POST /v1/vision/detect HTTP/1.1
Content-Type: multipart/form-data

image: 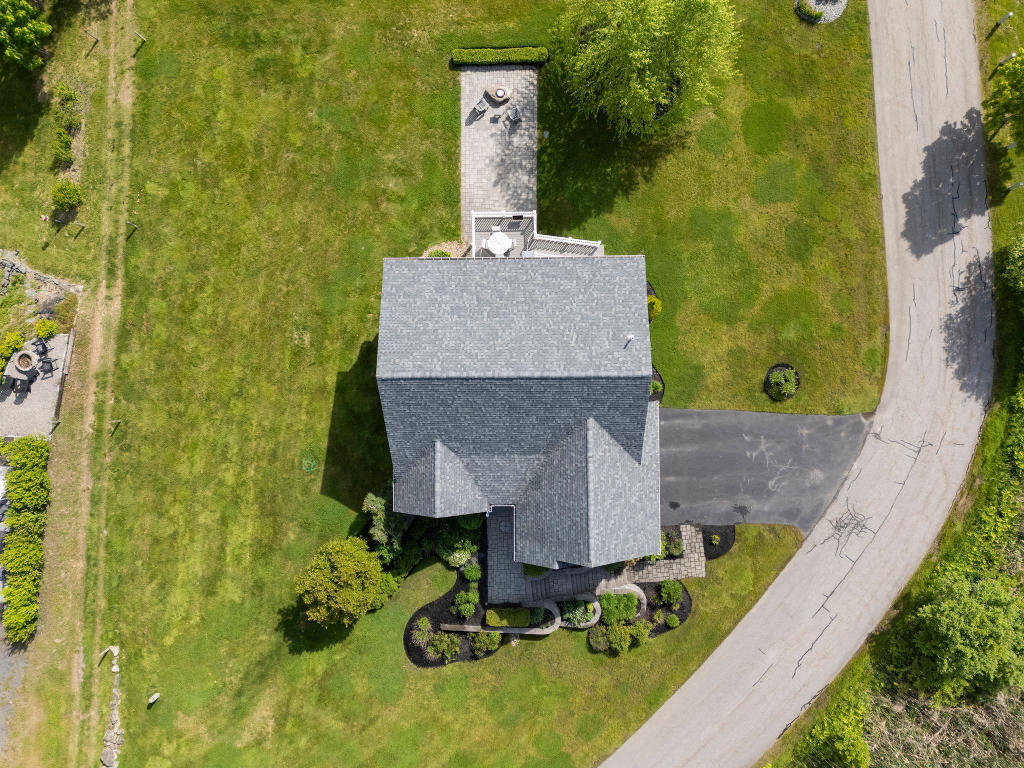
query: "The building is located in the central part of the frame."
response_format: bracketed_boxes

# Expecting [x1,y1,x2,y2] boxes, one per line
[377,252,663,569]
